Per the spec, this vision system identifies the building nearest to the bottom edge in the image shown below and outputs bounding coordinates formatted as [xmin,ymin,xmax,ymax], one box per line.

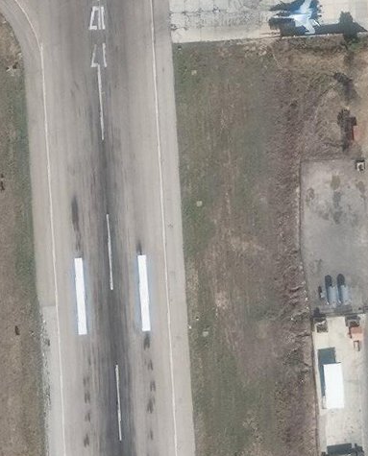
[324,363,343,413]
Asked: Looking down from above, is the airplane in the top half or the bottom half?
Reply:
top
